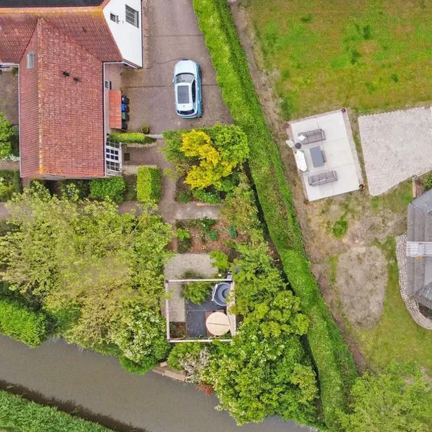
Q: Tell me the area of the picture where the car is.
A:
top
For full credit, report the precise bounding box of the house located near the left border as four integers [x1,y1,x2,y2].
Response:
[0,0,143,178]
